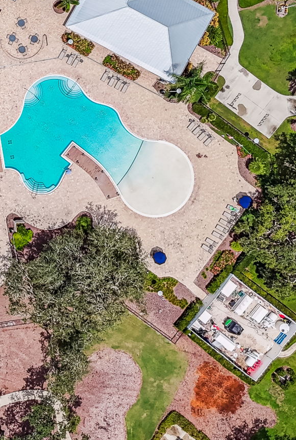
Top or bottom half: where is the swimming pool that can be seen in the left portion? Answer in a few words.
top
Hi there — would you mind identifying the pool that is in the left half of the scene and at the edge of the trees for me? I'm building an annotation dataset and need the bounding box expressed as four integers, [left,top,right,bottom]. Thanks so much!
[0,72,196,217]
